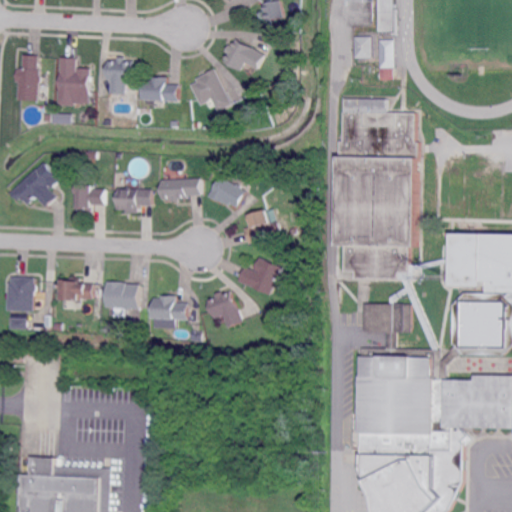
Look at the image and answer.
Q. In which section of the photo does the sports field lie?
top right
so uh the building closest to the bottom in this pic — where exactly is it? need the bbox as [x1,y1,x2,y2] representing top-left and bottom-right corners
[18,457,106,512]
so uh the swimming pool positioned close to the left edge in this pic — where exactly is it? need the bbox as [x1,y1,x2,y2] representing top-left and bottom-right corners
[23,106,42,125]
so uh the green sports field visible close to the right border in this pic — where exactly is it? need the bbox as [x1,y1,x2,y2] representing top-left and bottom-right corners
[437,0,512,49]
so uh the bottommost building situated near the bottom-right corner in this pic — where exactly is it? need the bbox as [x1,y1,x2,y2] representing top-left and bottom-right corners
[358,356,512,512]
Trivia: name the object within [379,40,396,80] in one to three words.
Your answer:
building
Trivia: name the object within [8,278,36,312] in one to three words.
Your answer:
house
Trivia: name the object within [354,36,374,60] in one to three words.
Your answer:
building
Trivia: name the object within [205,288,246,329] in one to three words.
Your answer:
house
